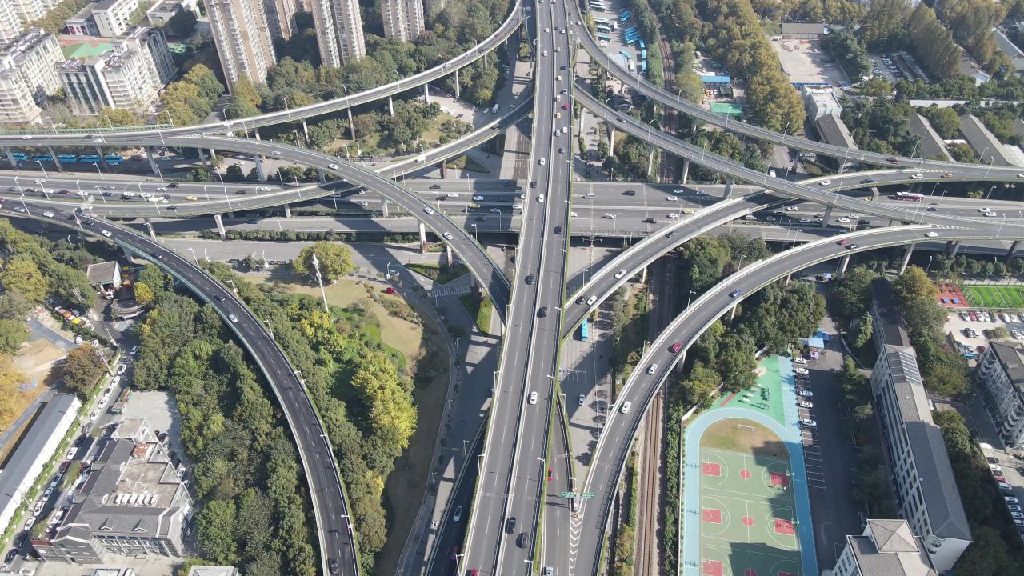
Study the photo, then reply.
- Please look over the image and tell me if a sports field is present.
Yes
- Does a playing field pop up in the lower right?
Yes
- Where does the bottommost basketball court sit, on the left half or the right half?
right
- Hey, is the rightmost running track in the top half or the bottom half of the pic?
bottom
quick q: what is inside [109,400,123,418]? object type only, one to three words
vehicle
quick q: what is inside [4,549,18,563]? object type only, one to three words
car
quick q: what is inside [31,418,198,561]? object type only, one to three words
building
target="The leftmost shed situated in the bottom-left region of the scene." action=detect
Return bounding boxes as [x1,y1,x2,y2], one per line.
[0,387,85,533]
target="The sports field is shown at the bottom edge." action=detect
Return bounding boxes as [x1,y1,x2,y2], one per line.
[698,416,802,569]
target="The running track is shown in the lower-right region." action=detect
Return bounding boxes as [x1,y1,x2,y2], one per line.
[686,408,818,576]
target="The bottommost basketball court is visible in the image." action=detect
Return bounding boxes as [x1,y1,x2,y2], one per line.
[698,447,804,576]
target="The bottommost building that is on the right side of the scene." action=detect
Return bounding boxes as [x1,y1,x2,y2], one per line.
[828,519,941,576]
